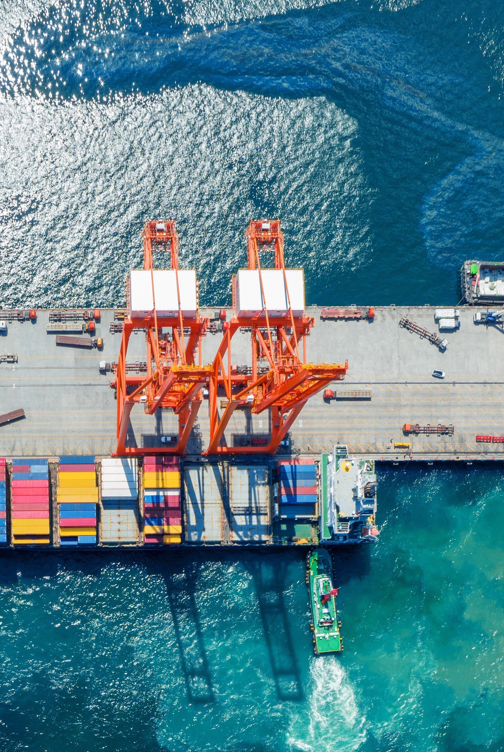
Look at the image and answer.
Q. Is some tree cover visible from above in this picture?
No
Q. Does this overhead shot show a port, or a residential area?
port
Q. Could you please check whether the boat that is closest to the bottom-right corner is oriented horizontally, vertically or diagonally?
vertically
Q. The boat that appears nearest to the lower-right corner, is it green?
Yes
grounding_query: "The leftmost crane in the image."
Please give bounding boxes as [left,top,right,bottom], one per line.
[112,227,212,455]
